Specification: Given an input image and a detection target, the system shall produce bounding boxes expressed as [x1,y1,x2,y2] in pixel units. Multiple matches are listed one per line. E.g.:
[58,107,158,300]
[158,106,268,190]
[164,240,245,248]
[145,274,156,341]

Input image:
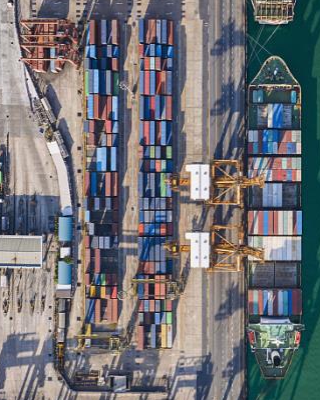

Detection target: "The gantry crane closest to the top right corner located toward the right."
[163,159,266,209]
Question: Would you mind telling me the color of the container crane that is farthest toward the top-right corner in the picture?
white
